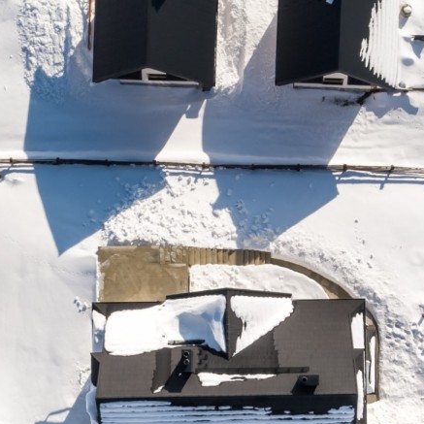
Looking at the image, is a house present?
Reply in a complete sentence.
Yes, I can see a house in this picture.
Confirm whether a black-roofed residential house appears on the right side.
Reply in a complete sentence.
Yes, looking on the right side, one can make out a black-roofed residential house.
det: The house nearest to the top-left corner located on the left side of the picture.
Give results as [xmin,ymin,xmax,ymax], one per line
[93,0,216,92]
